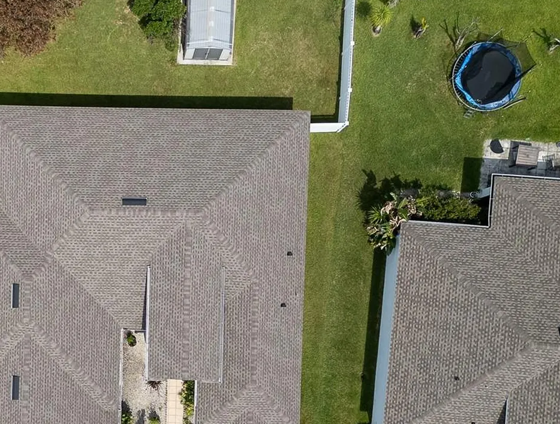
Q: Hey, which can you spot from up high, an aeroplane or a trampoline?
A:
trampoline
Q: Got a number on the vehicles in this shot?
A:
0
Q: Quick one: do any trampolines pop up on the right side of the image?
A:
Yes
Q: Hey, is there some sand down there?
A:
No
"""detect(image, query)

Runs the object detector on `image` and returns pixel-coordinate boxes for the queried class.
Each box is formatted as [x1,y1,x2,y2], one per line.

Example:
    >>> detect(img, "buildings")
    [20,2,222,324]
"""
[187,0,234,55]
[0,106,309,424]
[380,172,560,424]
